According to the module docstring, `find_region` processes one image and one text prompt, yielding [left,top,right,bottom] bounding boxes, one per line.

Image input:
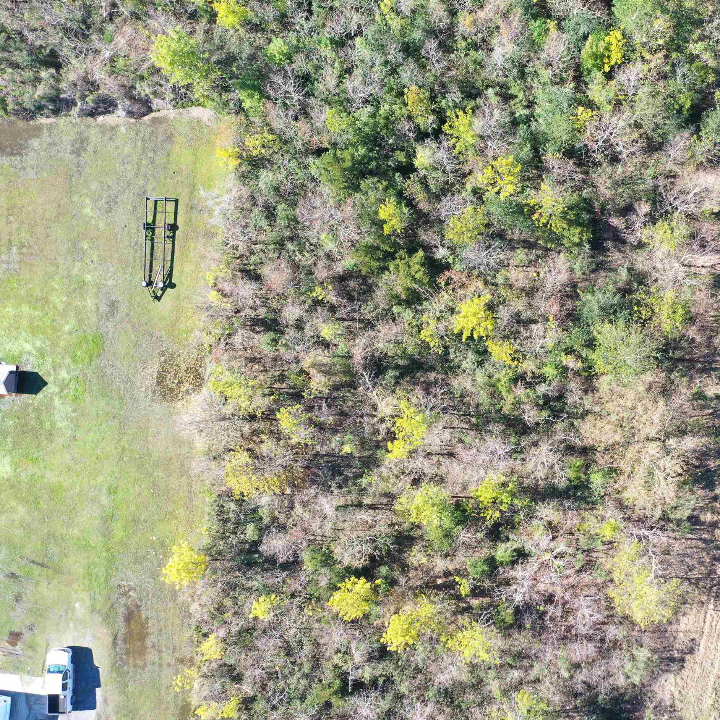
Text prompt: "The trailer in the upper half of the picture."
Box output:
[141,195,173,304]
